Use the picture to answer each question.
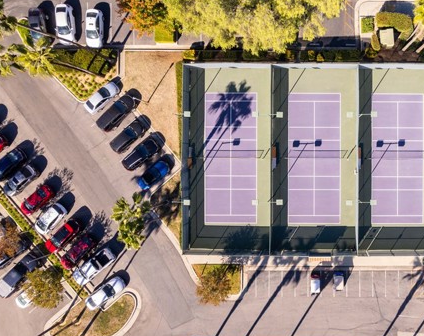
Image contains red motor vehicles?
Yes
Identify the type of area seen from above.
sports ground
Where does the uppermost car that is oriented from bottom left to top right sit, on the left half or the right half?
left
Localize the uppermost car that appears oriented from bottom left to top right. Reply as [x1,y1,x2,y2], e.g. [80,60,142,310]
[83,79,123,111]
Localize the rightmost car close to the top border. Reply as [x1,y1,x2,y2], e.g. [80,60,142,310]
[83,7,106,50]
